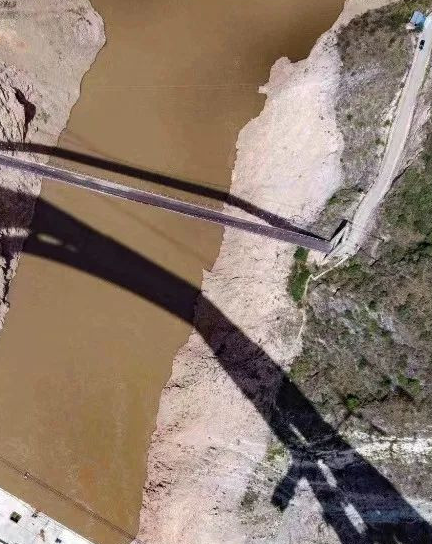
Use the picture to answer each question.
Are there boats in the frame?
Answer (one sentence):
No, I find no boat anywhere in the image.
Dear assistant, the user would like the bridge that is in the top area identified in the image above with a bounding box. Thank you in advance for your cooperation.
[0,148,345,261]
